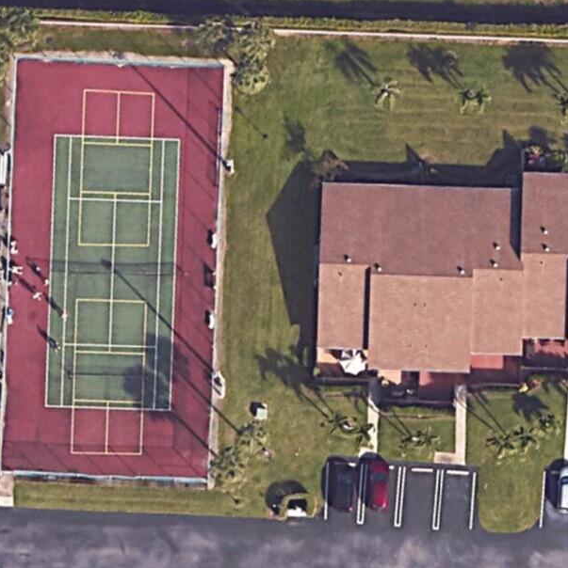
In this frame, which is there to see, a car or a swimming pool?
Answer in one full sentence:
Visible in the photo is a car.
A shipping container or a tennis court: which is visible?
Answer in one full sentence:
It is a tennis court that can be seen here.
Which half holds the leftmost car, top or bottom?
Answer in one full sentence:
Seen from above, the leftmost car lies in the bottom half of the view.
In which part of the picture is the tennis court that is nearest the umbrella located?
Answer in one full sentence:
The tennis court that is nearest the umbrella is located in the left region of the scene.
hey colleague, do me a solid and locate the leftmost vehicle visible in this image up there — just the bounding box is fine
[328,461,354,514]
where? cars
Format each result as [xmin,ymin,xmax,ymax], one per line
[556,466,568,515]
[328,461,354,514]
[366,461,392,513]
